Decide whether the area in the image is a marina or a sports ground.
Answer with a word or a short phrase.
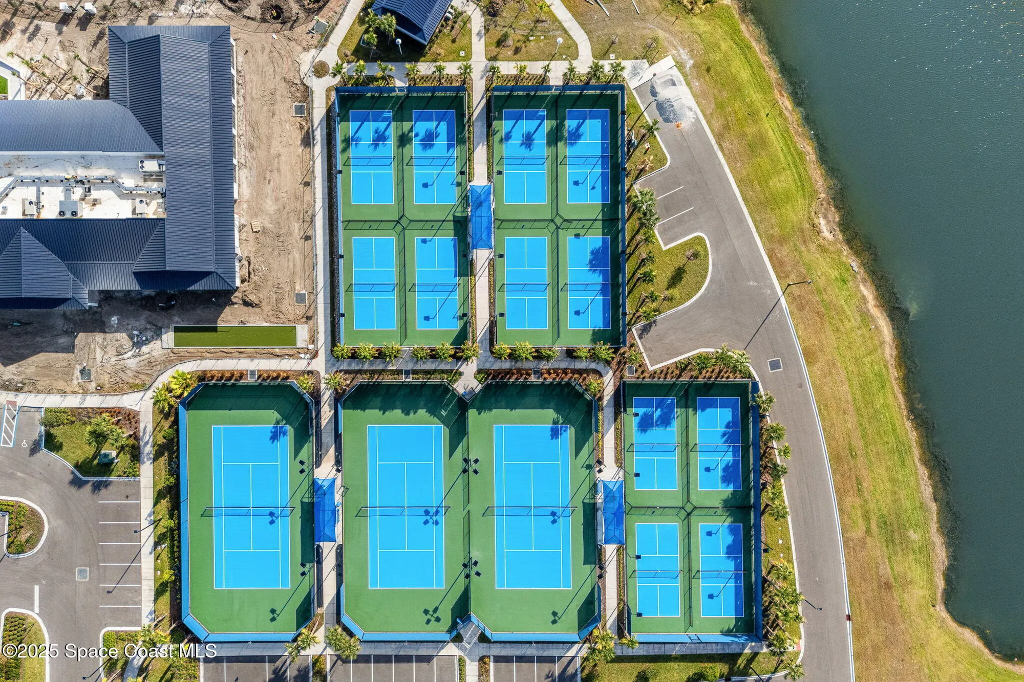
sports ground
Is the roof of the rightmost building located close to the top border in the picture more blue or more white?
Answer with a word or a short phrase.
blue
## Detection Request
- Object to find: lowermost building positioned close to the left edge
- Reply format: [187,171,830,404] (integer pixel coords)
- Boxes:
[0,25,238,309]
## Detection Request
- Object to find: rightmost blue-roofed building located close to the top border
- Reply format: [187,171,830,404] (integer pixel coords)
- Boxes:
[371,0,455,47]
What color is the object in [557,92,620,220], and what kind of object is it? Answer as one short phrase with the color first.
blue sports court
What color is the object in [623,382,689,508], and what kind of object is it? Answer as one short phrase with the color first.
blue sports court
